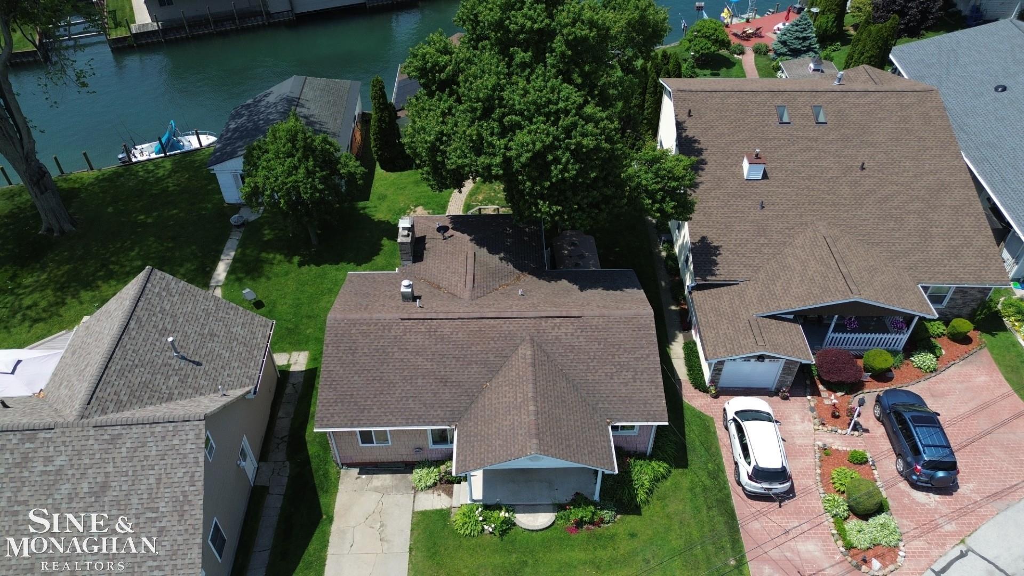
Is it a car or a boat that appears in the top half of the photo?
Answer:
boat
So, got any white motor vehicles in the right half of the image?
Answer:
Yes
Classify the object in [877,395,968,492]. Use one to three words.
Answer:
car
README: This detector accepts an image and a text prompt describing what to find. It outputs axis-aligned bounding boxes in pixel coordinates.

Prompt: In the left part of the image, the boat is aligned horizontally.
[111,116,218,164]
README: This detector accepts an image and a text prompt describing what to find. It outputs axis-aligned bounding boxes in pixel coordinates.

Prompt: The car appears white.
[724,401,798,505]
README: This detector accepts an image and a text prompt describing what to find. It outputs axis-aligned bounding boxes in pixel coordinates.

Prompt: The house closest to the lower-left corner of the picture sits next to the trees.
[0,265,281,576]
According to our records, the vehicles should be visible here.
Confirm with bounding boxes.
[877,395,968,492]
[724,401,798,505]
